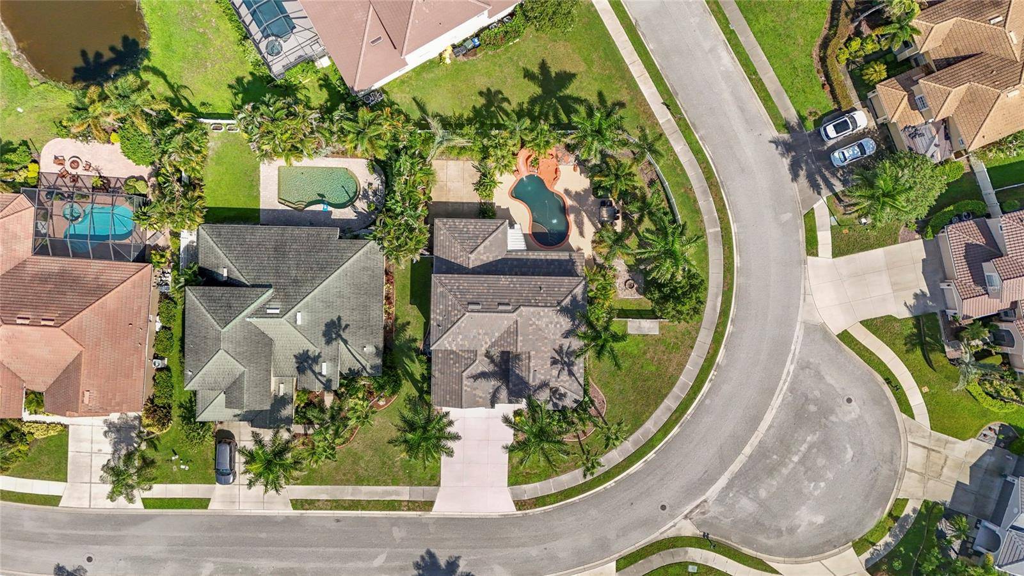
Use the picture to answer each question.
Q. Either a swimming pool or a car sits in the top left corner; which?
swimming pool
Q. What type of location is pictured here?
residential area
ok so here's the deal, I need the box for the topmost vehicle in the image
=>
[817,113,866,142]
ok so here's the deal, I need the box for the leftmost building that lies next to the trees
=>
[0,193,160,419]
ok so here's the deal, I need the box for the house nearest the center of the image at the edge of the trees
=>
[429,218,588,411]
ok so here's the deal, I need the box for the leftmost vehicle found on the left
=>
[214,437,239,483]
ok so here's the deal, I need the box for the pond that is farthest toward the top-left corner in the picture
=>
[2,0,144,84]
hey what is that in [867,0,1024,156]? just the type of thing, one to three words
house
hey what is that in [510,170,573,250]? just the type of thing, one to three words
swimming pool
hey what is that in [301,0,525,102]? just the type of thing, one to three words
house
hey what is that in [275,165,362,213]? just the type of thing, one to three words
swimming pool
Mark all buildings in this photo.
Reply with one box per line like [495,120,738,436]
[301,0,525,102]
[867,0,1024,156]
[975,469,1024,576]
[429,218,588,411]
[183,224,384,428]
[933,210,1024,405]
[0,193,160,419]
